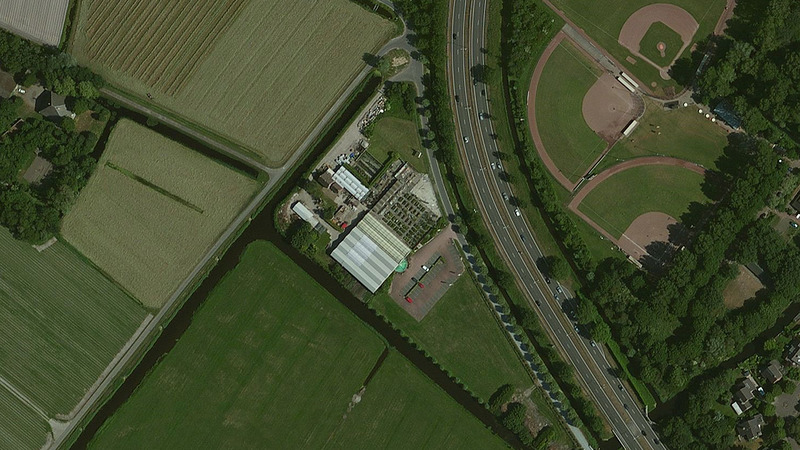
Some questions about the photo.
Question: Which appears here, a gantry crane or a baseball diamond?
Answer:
baseball diamond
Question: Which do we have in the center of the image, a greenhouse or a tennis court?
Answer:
greenhouse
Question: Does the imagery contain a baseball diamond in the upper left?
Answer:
No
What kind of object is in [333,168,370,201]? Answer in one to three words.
greenhouse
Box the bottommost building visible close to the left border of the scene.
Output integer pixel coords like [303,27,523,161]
[24,155,52,184]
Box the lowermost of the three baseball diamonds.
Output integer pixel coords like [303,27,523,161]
[569,157,719,271]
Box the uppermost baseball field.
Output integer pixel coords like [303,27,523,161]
[548,0,736,98]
